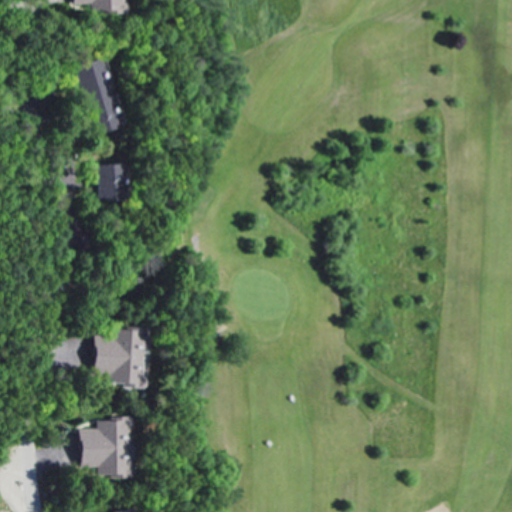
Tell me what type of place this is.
golf course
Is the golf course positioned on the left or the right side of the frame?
right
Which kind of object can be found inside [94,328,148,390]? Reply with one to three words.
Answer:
house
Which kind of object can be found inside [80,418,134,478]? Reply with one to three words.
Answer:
house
